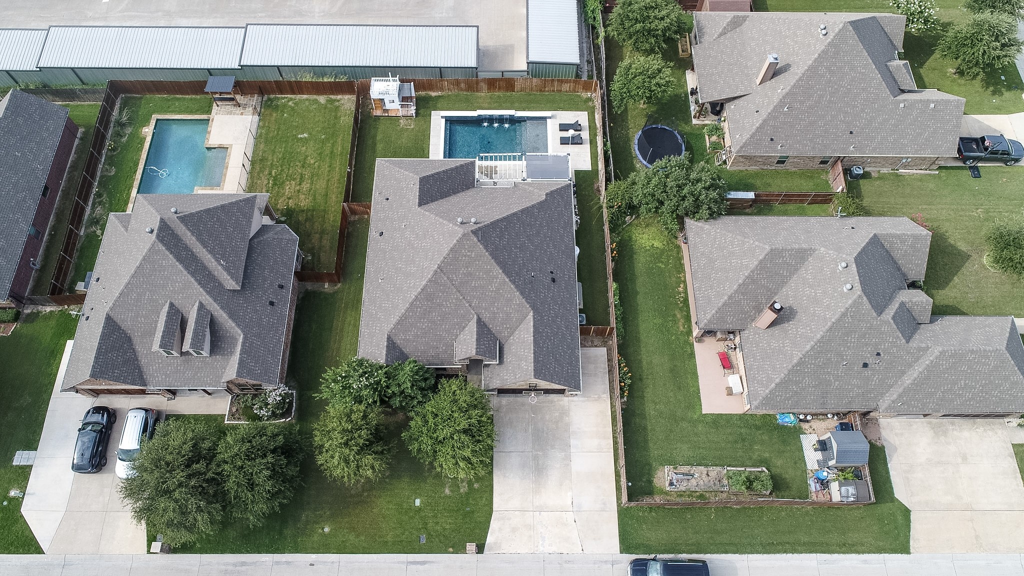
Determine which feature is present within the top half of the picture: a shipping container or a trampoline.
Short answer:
trampoline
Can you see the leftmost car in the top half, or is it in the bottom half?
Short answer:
bottom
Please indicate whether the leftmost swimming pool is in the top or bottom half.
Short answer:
top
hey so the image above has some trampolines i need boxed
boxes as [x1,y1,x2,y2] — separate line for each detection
[633,115,690,165]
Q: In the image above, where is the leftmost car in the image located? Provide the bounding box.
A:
[70,405,118,473]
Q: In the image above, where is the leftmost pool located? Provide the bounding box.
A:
[129,114,233,211]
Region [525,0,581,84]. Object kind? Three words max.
shed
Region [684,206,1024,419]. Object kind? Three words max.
house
